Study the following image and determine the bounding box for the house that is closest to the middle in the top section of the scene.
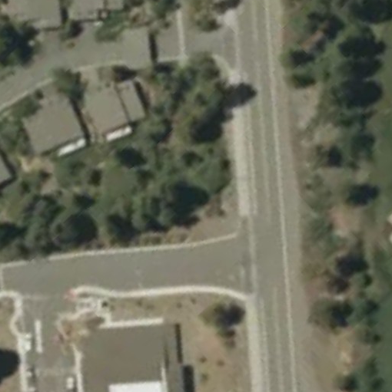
[84,82,145,141]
